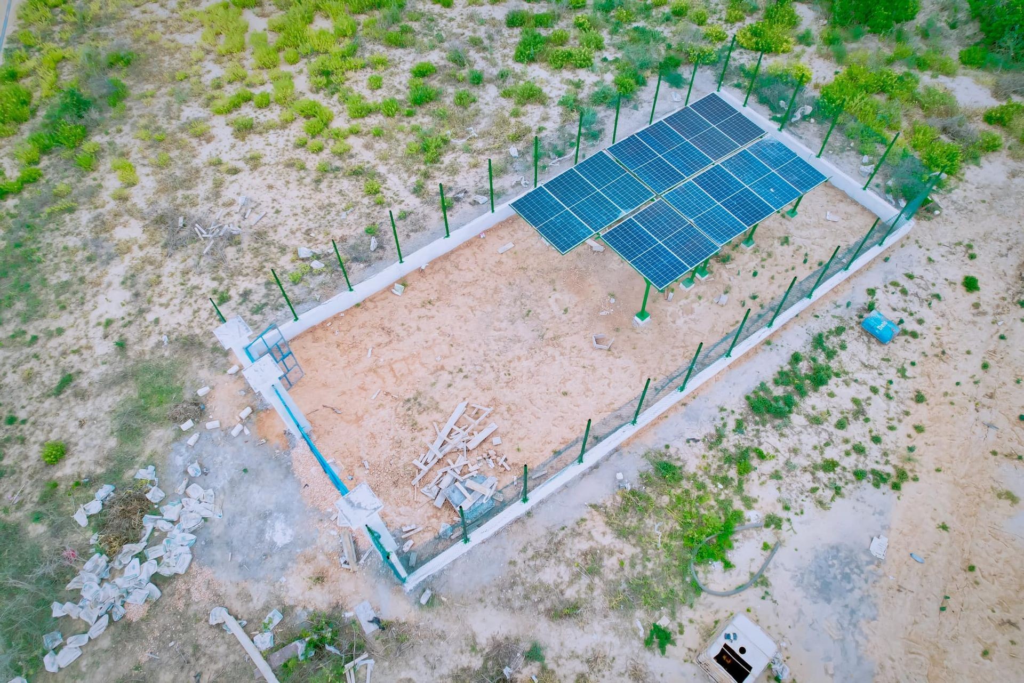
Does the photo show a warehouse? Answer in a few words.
No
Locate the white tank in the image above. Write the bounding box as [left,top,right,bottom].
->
[688,612,778,683]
